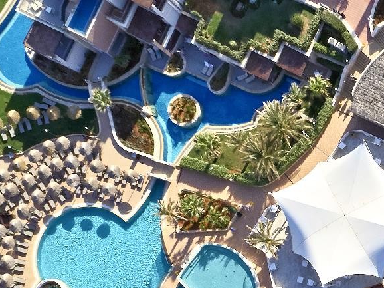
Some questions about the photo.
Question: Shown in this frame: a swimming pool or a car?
swimming pool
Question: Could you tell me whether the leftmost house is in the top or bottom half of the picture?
top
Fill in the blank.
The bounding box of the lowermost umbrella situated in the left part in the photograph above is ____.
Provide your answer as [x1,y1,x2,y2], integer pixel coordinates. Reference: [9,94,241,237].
[2,273,18,288]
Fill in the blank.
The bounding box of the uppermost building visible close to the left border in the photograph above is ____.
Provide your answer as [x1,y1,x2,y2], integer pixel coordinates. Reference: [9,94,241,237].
[11,0,141,77]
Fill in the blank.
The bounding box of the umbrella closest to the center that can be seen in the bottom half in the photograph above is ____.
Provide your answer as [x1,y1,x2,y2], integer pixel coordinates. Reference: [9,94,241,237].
[126,170,141,184]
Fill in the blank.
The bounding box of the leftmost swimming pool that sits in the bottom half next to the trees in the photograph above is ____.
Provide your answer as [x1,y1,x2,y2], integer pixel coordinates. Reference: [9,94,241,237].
[35,172,173,288]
